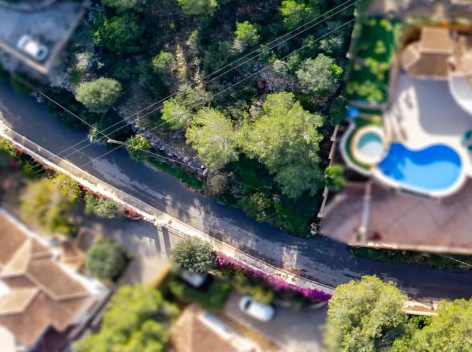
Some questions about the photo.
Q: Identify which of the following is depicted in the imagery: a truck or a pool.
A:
pool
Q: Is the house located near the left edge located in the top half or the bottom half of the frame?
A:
bottom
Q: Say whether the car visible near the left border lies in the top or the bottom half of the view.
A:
top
